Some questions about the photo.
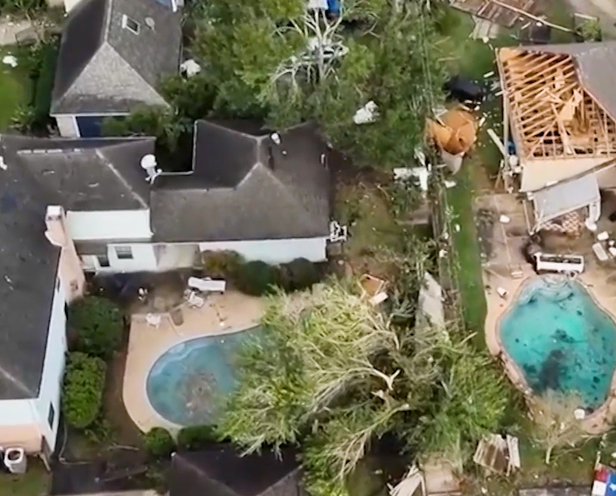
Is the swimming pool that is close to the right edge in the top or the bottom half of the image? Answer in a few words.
bottom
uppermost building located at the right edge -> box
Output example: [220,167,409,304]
[496,41,616,191]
